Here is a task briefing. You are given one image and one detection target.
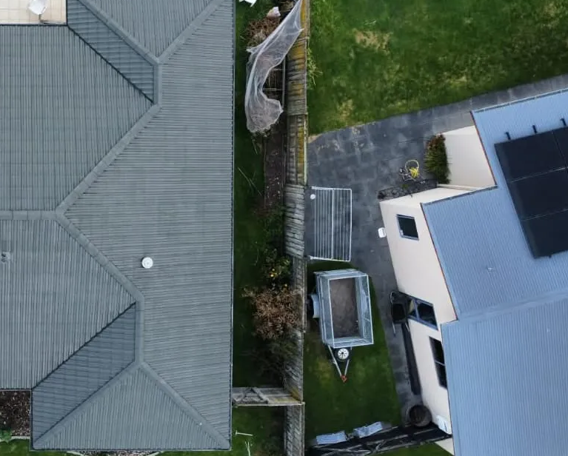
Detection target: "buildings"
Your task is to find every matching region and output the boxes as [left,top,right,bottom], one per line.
[381,86,568,456]
[0,0,237,453]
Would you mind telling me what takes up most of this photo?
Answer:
buildings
